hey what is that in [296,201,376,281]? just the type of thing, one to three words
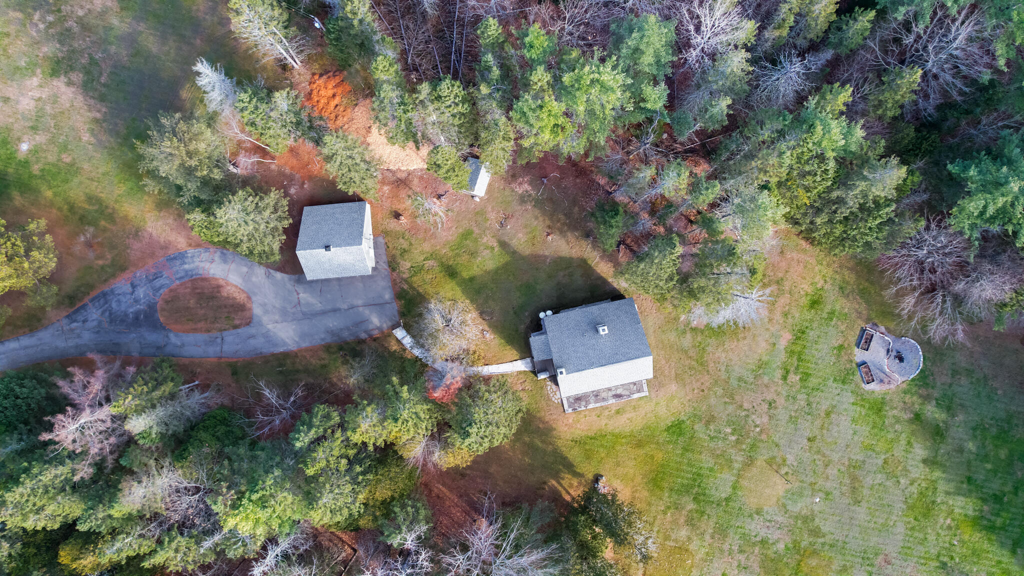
building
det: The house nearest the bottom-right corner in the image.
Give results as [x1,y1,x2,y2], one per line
[529,297,654,398]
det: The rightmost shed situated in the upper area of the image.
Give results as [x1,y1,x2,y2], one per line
[460,160,491,193]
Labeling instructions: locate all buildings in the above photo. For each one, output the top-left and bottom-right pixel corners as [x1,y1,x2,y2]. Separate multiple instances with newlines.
[460,160,491,193]
[296,201,376,281]
[529,297,654,398]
